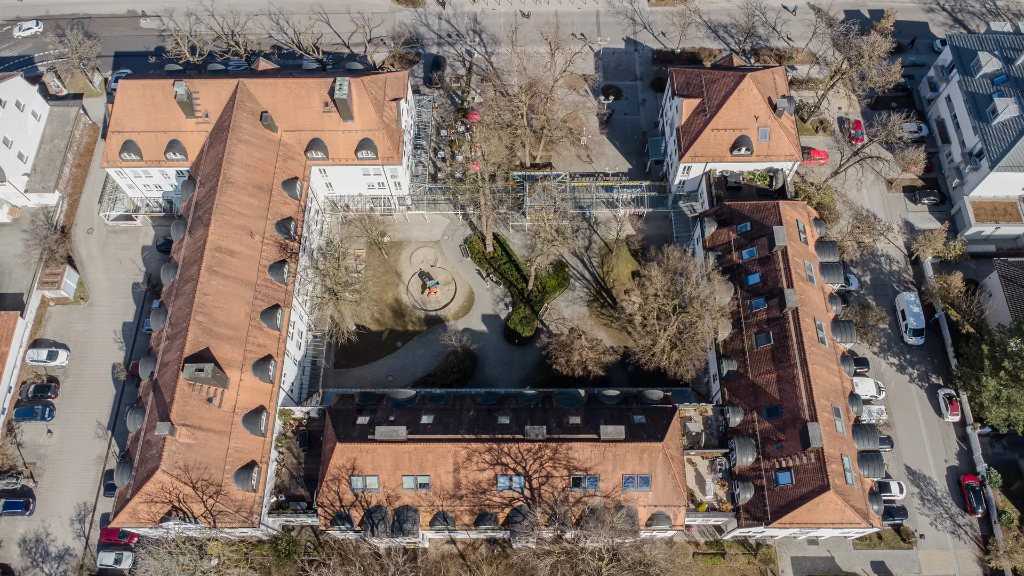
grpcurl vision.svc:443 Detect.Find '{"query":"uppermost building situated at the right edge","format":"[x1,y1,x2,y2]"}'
[911,15,1024,215]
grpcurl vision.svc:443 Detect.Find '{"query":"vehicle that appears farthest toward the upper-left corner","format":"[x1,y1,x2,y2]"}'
[12,20,48,44]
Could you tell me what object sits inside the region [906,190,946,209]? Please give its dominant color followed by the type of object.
black car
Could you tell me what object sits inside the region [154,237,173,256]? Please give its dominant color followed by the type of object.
black car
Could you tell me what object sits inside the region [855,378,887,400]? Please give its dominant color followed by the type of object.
white vehicle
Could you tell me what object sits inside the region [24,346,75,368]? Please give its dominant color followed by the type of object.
white car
